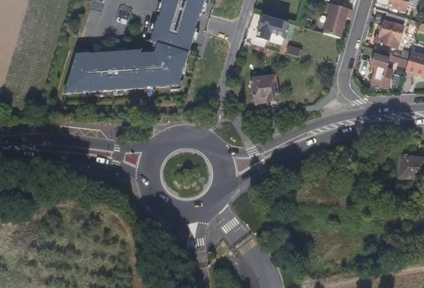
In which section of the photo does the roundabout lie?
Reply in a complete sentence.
The roundabout is located in the center region of the scene.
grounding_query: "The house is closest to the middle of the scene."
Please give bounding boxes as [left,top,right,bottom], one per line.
[250,74,278,104]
